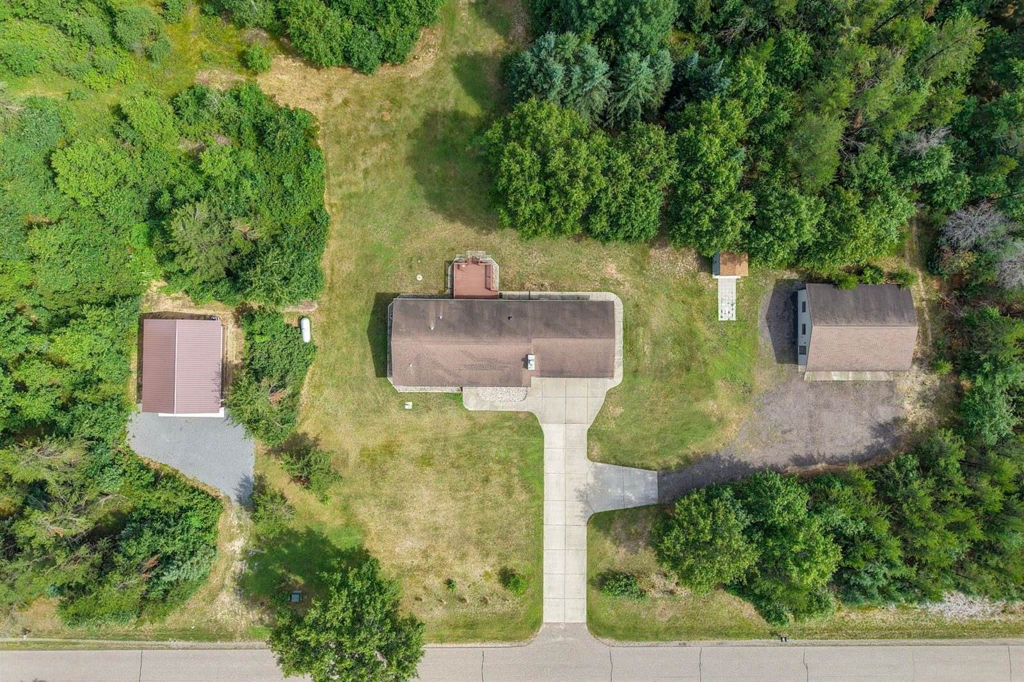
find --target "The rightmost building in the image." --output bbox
[798,284,920,371]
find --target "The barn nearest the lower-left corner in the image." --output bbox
[142,319,231,414]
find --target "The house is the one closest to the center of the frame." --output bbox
[390,298,617,388]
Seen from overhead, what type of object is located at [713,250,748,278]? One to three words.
shed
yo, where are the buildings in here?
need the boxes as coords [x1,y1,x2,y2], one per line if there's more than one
[142,319,231,414]
[390,298,617,388]
[798,284,920,371]
[713,250,748,278]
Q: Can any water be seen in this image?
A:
No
